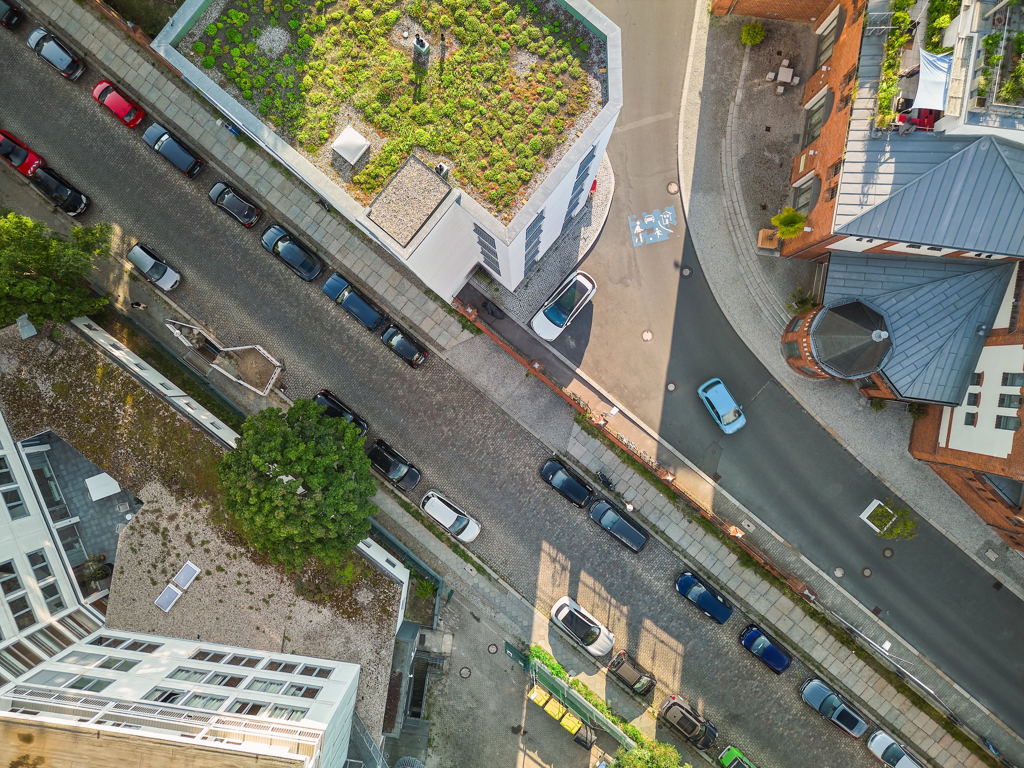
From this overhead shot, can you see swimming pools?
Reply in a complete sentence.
No, this view has no swimming pool in it.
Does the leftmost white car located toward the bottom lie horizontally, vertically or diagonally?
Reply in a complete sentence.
In this picture, the leftmost white car located toward the bottom lies diagonally.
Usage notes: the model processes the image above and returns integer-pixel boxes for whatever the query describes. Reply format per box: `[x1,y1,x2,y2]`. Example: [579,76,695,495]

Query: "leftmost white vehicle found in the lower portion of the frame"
[422,489,478,541]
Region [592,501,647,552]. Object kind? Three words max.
car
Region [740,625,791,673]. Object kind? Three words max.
car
